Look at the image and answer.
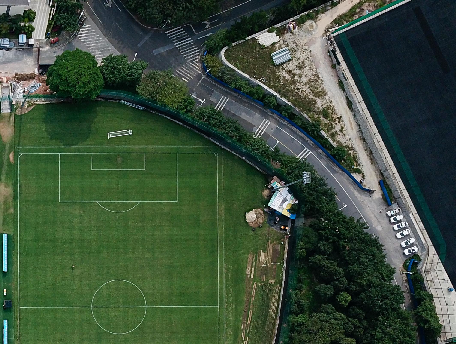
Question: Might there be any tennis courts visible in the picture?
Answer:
No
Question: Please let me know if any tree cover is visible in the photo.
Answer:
Yes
